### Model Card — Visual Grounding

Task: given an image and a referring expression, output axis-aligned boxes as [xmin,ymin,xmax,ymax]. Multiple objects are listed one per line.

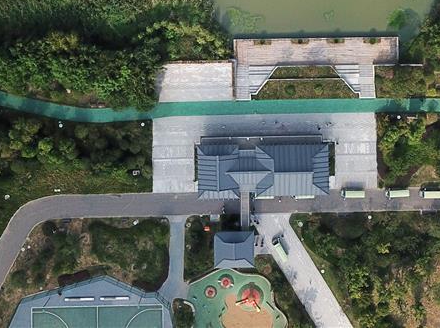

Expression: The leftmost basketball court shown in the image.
[32,308,162,328]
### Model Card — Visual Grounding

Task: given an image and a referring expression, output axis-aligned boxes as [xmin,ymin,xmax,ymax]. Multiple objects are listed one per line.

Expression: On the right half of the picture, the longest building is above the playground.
[195,136,335,201]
